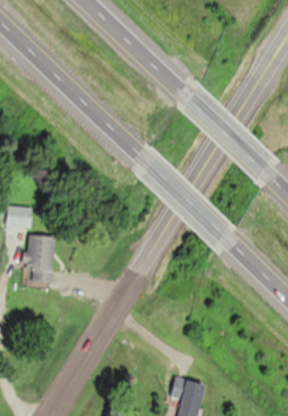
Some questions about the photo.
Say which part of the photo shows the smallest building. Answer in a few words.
left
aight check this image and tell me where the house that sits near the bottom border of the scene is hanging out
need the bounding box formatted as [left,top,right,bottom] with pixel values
[164,376,205,416]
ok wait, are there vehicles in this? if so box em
[15,250,22,262]
[6,264,14,274]
[73,289,84,294]
[275,290,286,300]
[83,340,92,350]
